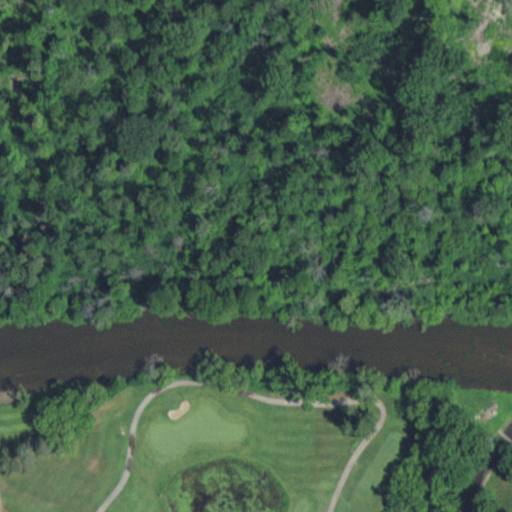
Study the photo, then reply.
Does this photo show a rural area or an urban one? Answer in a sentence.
It looks rural.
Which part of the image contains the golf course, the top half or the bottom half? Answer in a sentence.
The bottom half of the photo is where the golf course is.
